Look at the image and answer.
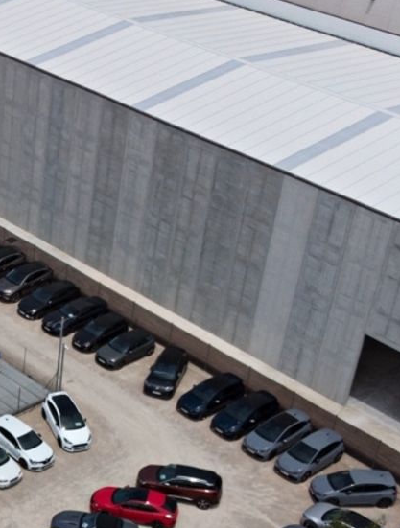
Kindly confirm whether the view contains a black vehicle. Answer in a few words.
Yes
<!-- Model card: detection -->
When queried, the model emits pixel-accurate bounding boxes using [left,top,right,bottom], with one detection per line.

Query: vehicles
[90,484,181,528]
[95,326,153,369]
[137,460,225,508]
[310,467,398,506]
[174,366,240,420]
[143,340,189,396]
[71,309,127,351]
[272,427,339,480]
[301,503,382,528]
[242,409,305,461]
[0,414,53,469]
[208,384,275,439]
[0,443,24,488]
[40,395,87,450]
[48,509,139,528]
[18,279,74,321]
[37,297,99,338]
[0,263,47,302]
